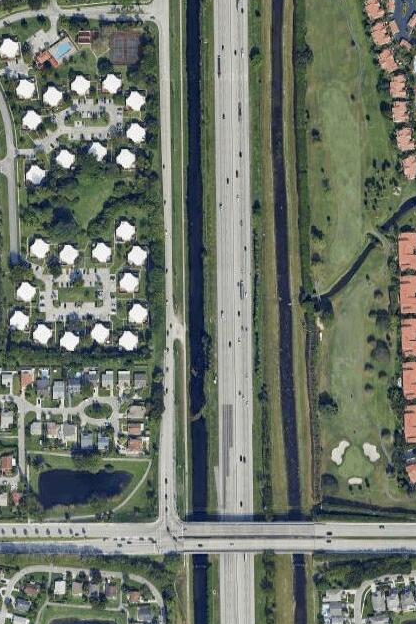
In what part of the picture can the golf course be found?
right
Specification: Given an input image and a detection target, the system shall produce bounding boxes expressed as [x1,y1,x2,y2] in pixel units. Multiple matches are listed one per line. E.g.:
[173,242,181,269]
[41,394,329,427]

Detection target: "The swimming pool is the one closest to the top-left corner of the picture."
[49,37,74,61]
